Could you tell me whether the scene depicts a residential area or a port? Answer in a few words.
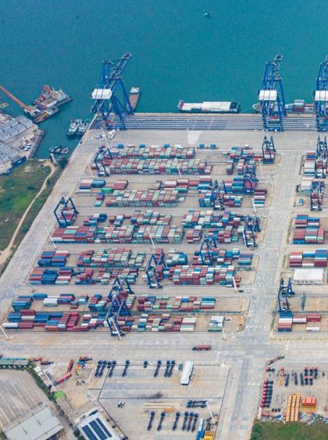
port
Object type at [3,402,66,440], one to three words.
shed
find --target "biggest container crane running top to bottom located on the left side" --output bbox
[96,56,132,131]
